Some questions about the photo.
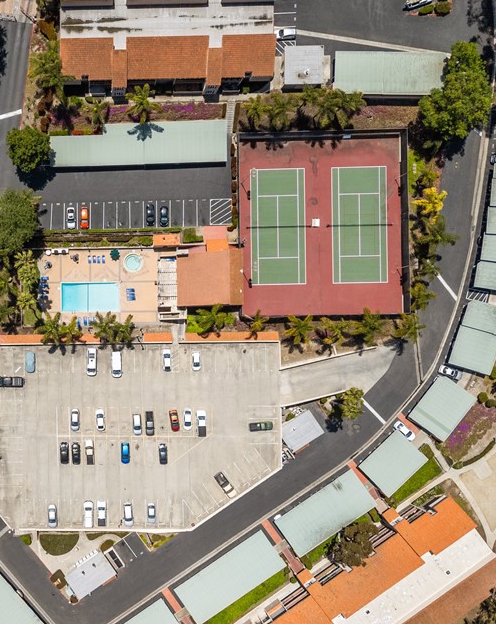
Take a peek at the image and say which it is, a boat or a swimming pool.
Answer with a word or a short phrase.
swimming pool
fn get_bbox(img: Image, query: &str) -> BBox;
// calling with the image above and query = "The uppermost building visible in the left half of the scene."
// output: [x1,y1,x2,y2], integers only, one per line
[60,0,276,100]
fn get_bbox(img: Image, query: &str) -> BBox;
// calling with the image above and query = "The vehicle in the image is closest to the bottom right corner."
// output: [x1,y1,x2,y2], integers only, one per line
[392,420,415,441]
